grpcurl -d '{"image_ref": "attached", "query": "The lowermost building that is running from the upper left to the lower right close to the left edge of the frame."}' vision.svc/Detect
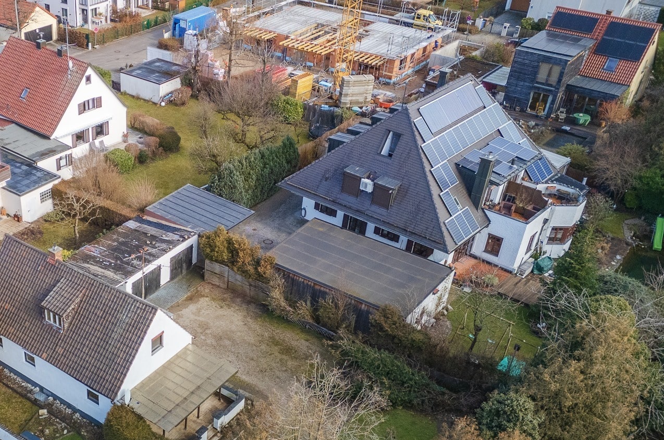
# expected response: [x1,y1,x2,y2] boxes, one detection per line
[0,230,257,440]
